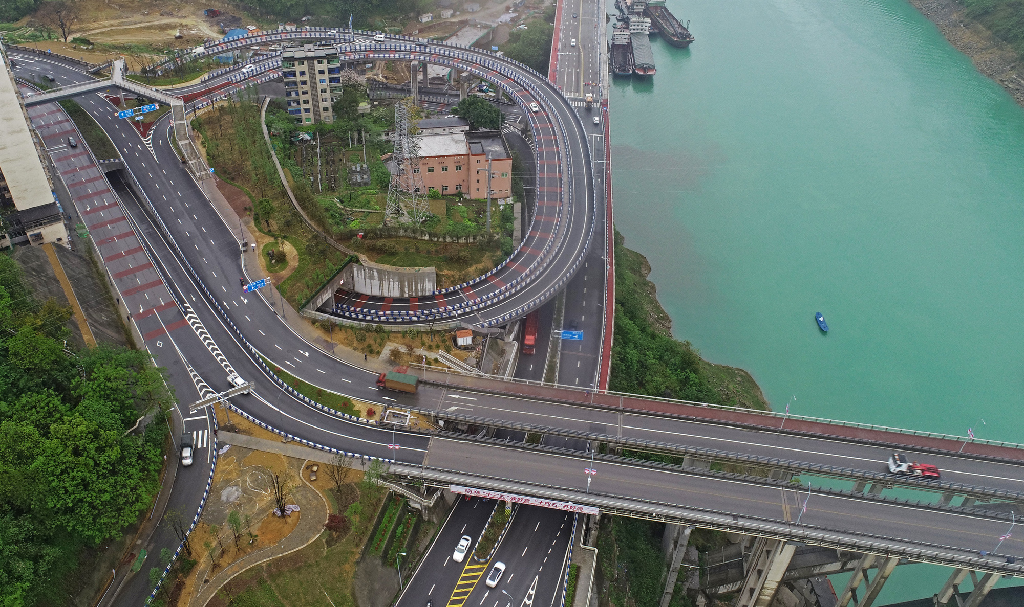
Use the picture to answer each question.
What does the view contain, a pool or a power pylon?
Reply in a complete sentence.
There is a power pylon in the scene.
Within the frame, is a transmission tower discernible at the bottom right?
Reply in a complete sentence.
No, there is no transmission tower at the bottom right.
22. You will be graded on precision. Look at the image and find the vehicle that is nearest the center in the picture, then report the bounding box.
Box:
[524,304,538,351]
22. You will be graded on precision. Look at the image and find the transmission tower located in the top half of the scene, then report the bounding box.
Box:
[384,95,436,220]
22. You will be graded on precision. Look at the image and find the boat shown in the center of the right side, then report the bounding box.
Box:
[815,308,831,332]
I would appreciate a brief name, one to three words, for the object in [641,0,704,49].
vessel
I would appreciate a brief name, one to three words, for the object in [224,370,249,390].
vehicle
